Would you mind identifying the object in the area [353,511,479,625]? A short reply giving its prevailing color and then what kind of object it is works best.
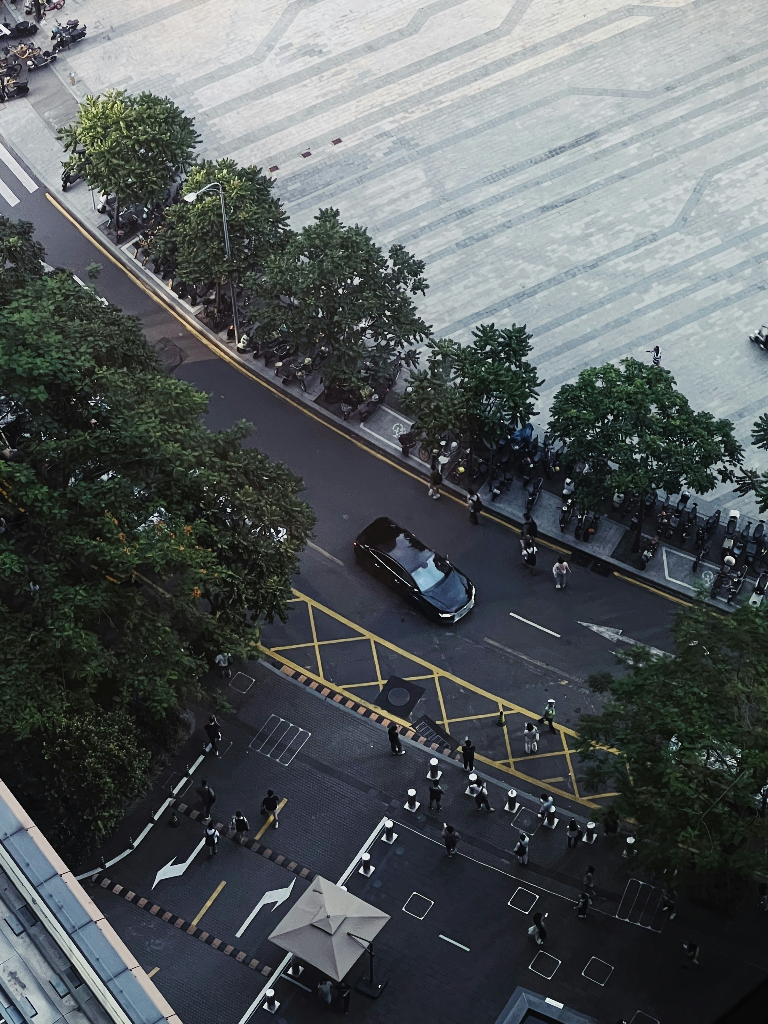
black car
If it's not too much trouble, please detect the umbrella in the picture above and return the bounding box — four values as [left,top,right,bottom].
[268,876,391,998]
